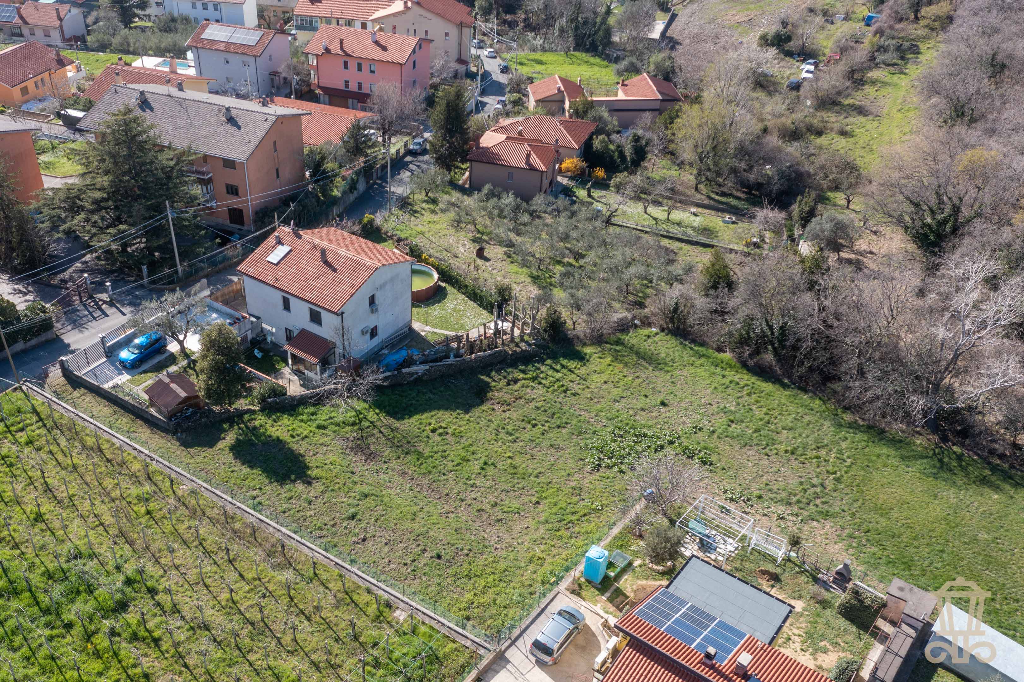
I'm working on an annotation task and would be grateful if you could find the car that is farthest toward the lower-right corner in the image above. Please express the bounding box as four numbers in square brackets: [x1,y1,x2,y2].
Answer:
[532,610,591,666]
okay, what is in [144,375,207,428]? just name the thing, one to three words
shed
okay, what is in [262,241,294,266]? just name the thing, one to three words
solar panel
